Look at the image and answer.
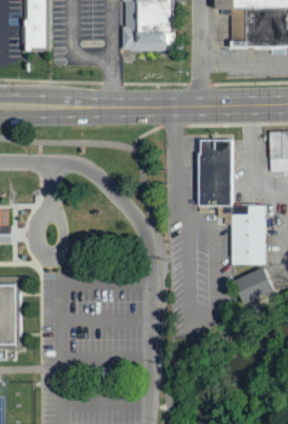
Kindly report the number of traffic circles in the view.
0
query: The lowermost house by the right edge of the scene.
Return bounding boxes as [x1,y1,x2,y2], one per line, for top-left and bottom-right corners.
[236,266,278,305]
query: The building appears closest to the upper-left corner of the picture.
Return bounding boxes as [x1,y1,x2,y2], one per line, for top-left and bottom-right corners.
[26,0,50,53]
